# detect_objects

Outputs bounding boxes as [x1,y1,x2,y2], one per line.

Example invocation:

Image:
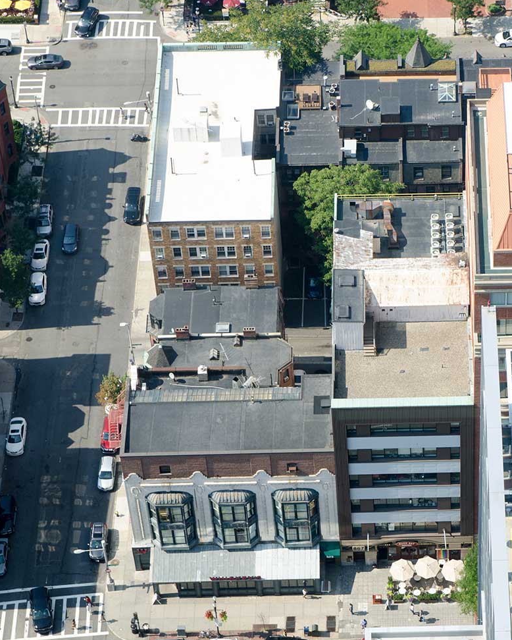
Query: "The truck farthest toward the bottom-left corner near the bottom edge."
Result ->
[29,584,52,634]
